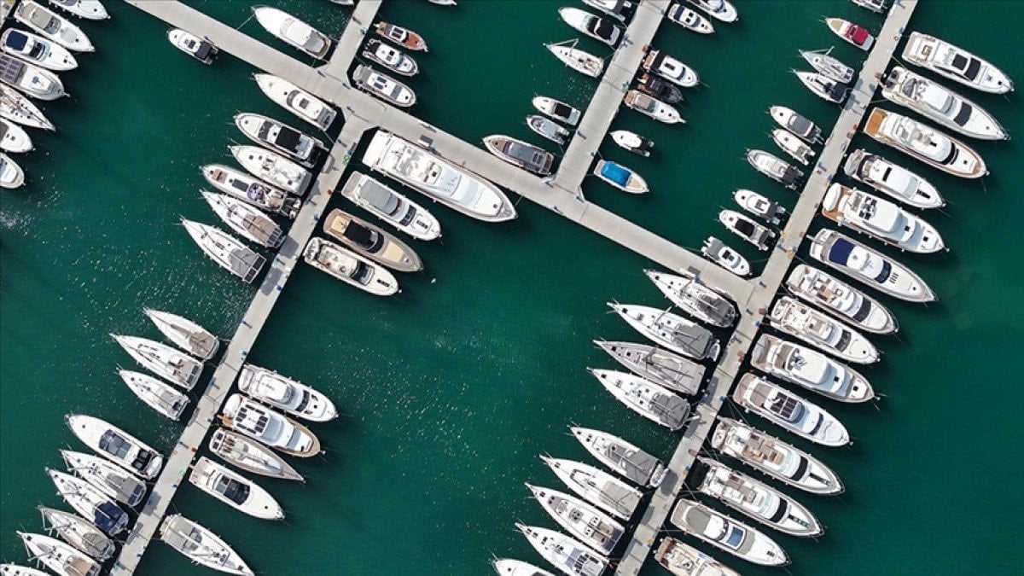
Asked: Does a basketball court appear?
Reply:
No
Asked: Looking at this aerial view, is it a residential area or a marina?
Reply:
marina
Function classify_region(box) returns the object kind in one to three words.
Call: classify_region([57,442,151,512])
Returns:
boat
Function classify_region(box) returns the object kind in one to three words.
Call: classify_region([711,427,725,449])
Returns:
boat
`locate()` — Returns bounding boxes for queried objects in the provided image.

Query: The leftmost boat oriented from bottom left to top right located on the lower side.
[146,456,163,478]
